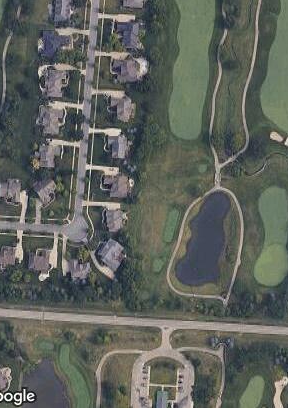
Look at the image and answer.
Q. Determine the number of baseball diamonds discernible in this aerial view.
0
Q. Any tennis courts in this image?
No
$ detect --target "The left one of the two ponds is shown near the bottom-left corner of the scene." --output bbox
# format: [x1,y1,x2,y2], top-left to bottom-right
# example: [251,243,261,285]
[17,359,72,408]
